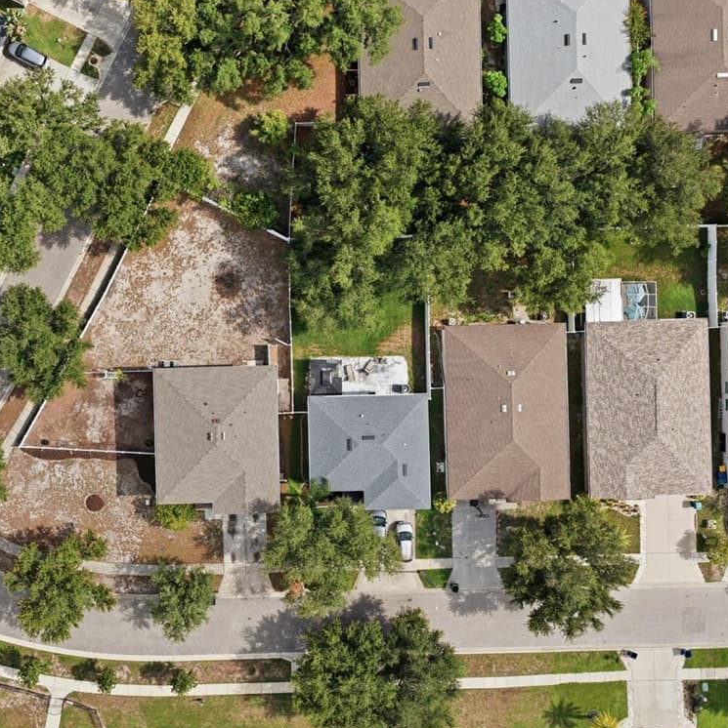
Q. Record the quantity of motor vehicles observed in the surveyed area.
three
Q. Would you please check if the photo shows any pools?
Yes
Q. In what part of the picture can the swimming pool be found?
right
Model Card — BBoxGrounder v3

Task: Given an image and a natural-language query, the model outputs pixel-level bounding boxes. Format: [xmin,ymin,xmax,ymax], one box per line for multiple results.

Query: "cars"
[3,38,52,71]
[369,511,391,553]
[394,519,417,565]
